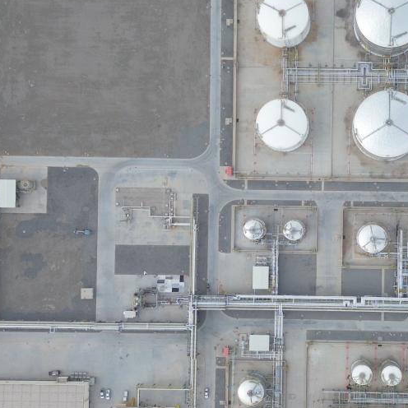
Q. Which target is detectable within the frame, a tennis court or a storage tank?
storage tank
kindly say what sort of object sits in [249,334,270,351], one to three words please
shed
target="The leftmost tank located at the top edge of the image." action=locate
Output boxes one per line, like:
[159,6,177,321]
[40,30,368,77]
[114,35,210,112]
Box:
[256,0,312,51]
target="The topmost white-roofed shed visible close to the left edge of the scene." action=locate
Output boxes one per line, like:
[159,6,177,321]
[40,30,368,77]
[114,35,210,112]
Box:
[0,180,19,208]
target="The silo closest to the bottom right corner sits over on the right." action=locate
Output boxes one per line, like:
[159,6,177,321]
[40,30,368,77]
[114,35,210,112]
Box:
[379,360,403,388]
